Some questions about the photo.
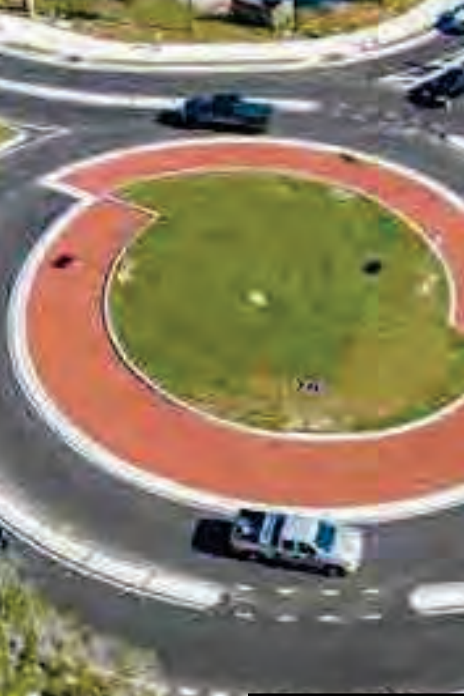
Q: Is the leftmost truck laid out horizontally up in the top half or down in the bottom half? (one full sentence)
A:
The leftmost truck laid out horizontally sits in the top half of the picture.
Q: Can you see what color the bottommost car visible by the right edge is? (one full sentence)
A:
In this view, the bottommost car visible by the right edge is black.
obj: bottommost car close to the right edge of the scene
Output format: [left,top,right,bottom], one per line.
[409,62,464,104]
